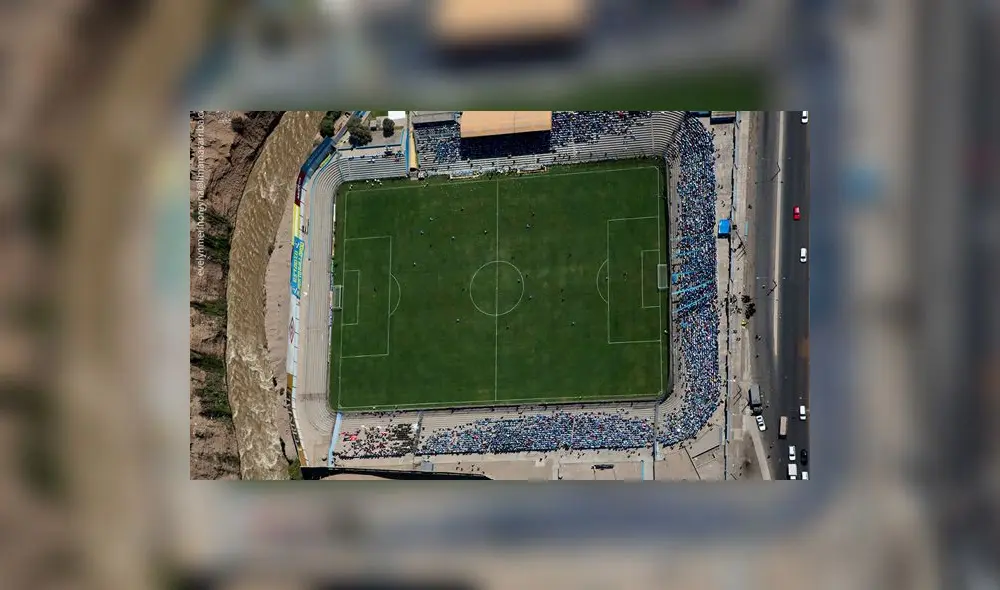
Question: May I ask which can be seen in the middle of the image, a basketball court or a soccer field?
soccer field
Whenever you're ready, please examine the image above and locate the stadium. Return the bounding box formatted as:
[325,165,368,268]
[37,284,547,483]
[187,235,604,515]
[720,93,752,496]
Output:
[305,78,720,471]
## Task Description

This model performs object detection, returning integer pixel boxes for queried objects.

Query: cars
[794,206,801,221]
[788,445,796,461]
[757,414,766,432]
[801,449,808,466]
[802,470,808,486]
[800,247,807,263]
[802,109,808,124]
[800,404,806,420]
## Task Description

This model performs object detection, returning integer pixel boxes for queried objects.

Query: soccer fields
[328,159,672,411]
